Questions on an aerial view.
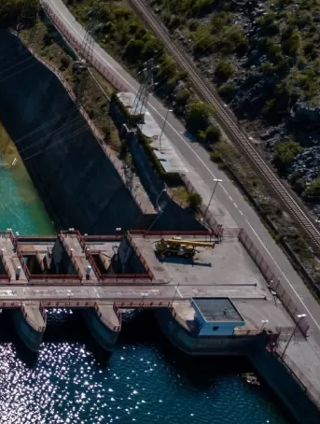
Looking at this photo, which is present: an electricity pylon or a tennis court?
electricity pylon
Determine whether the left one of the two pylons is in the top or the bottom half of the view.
top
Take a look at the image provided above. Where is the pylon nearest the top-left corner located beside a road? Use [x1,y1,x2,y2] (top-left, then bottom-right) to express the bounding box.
[82,8,106,54]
